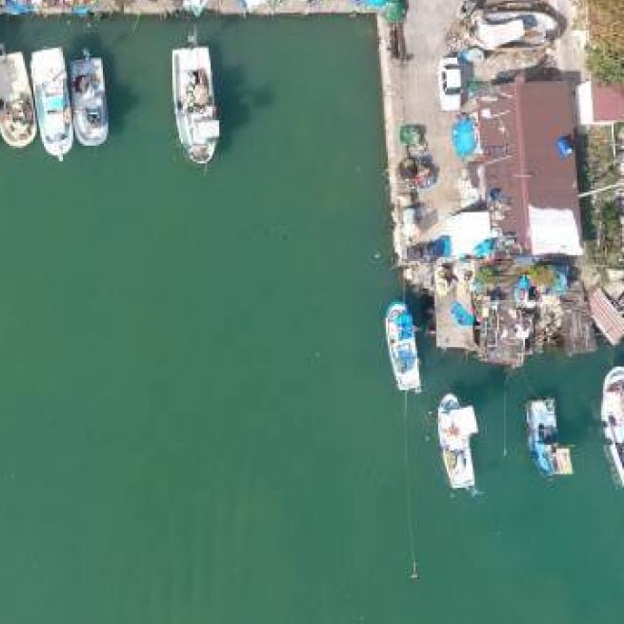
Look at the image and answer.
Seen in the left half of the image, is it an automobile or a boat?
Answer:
boat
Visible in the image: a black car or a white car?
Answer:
white car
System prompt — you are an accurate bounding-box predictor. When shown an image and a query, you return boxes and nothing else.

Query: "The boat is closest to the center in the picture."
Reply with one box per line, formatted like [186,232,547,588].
[386,302,420,397]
